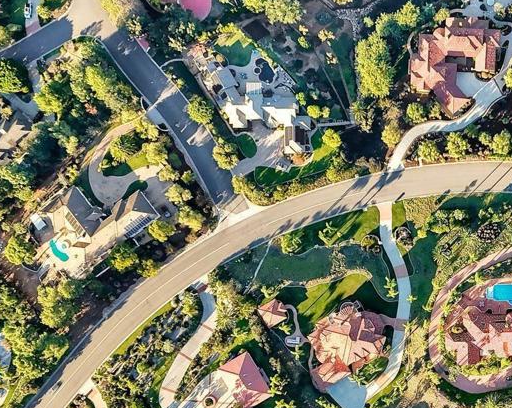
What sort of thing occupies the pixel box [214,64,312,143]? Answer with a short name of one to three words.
house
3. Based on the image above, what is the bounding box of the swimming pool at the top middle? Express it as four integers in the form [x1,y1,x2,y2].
[254,56,275,84]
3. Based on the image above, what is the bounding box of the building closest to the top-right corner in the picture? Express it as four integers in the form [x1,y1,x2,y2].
[410,17,502,116]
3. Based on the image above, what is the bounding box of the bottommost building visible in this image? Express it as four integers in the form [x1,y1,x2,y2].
[219,351,273,408]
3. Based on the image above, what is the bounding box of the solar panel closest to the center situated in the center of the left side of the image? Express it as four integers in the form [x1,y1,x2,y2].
[127,207,152,228]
